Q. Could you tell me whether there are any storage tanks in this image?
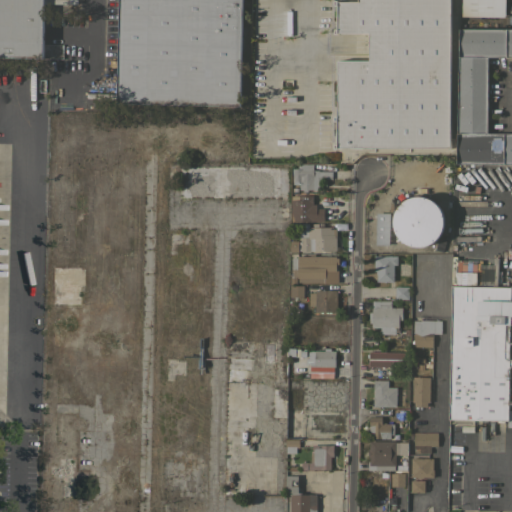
Yes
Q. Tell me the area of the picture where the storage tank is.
right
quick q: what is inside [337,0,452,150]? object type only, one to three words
warehouse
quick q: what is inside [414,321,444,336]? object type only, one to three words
building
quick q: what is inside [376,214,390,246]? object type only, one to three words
shed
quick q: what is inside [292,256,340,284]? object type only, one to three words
house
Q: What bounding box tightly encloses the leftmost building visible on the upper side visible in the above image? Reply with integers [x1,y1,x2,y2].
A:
[0,0,45,59]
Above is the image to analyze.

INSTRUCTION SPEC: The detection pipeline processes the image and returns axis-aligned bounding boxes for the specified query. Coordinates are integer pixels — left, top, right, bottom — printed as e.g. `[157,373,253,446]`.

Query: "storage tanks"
[390,197,444,248]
